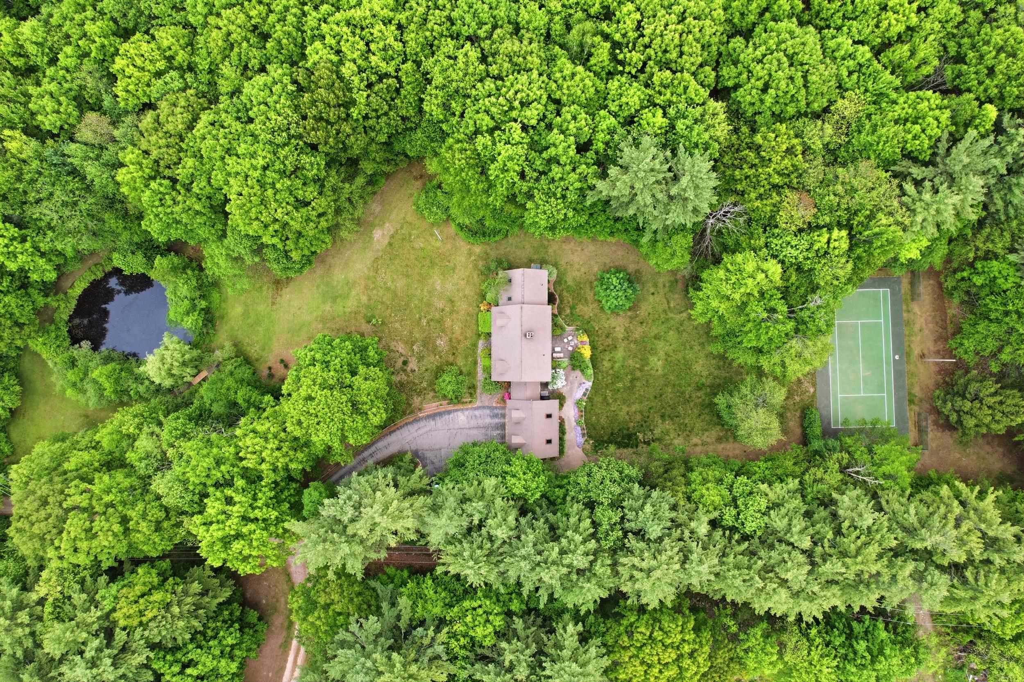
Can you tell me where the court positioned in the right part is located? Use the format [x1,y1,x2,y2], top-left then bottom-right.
[814,277,913,445]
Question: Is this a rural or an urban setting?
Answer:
rural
